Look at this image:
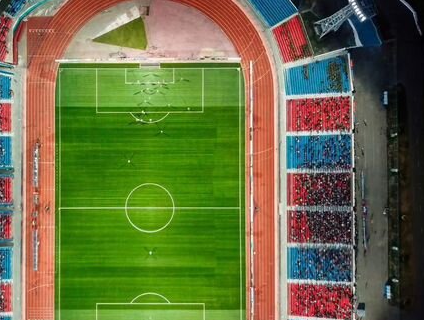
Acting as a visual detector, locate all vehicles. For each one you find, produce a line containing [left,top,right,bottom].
[382,283,390,298]
[380,90,388,106]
